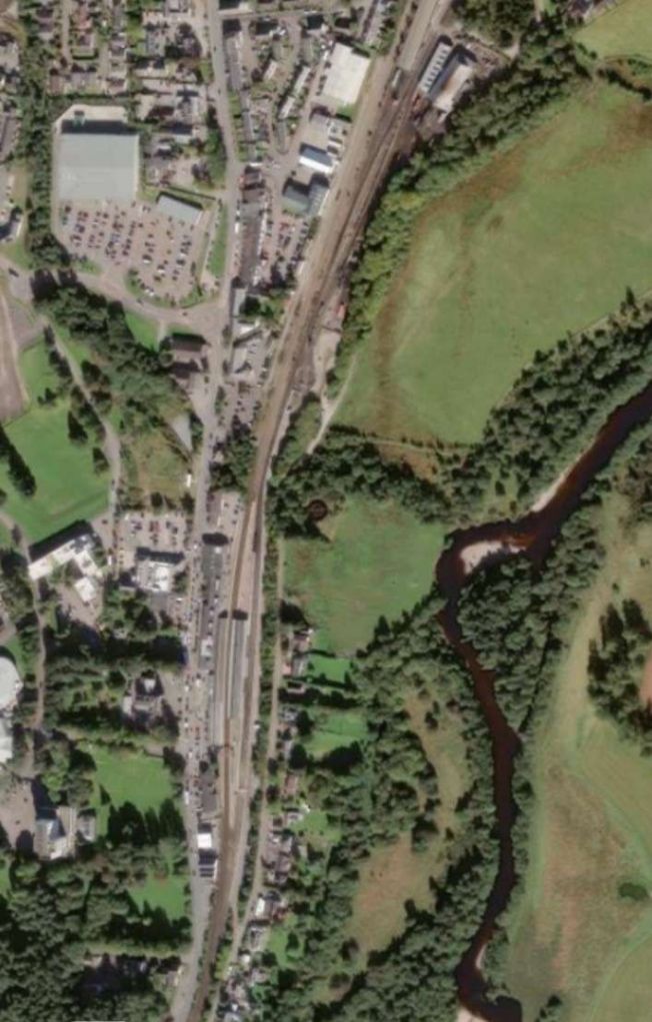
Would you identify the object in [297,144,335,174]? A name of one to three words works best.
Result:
building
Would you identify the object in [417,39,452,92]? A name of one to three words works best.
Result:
shed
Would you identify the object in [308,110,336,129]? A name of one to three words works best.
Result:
building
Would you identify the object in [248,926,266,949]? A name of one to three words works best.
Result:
house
